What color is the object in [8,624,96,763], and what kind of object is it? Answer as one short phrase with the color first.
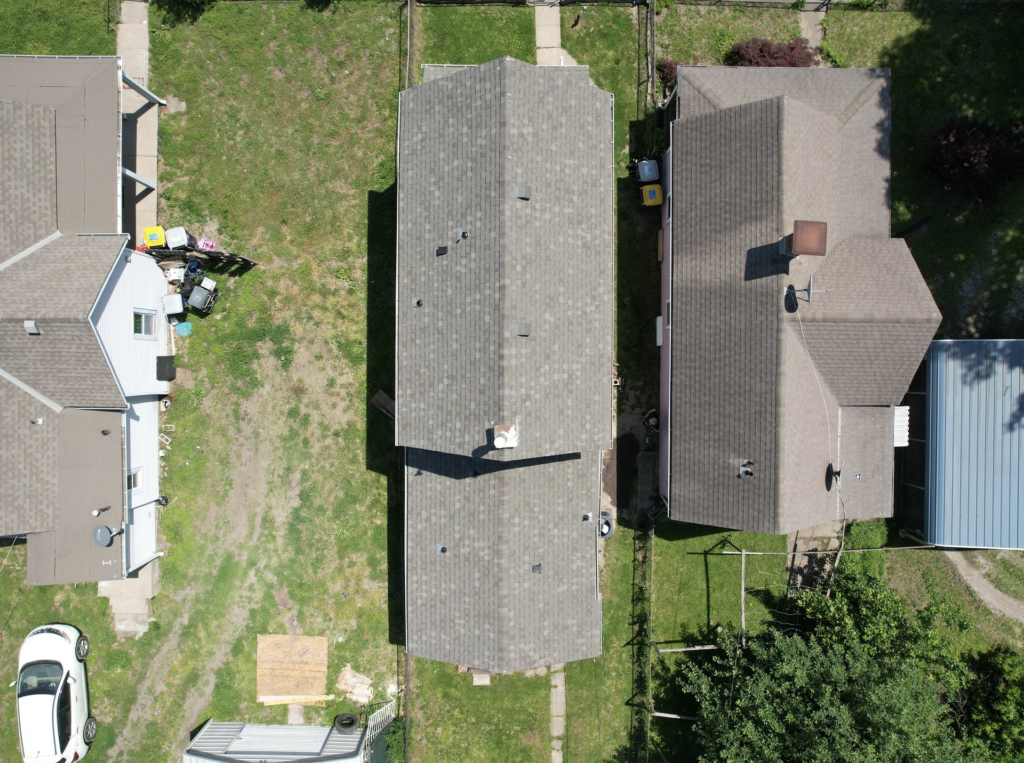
white car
